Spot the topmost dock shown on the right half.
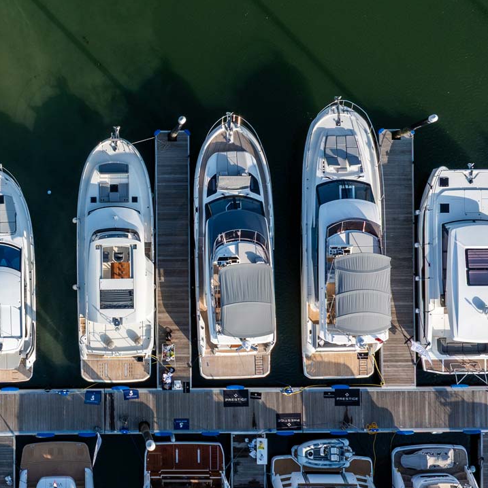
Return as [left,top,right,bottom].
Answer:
[377,127,416,386]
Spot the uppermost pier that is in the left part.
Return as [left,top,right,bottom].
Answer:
[153,128,193,388]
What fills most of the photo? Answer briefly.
water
